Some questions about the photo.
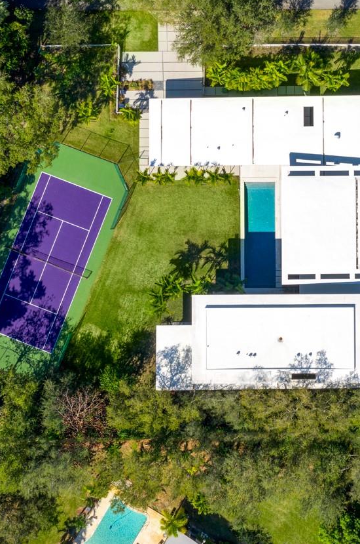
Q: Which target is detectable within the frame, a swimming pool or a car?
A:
swimming pool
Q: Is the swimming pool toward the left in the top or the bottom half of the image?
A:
bottom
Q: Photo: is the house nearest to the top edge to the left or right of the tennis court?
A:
right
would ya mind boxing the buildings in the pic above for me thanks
[149,97,360,390]
[165,529,214,544]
